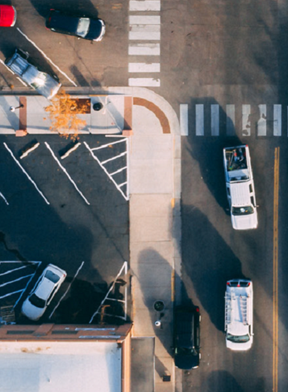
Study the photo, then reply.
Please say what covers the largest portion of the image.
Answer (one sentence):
Most of the picture is covered by paved ground.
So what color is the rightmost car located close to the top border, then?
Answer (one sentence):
The color of the rightmost car located close to the top border is black.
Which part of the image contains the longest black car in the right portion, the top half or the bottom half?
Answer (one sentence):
The bottom half of the photo is where the longest black car in the right portion is.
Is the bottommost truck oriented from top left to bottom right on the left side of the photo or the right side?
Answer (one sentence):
The bottommost truck oriented from top left to bottom right appears in the left half of the scene.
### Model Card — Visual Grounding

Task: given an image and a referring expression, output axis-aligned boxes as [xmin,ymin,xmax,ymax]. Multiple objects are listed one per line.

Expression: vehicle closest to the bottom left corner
[22,263,67,323]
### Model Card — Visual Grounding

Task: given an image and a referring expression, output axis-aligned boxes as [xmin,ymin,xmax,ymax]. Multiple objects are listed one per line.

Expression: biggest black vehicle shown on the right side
[173,304,201,370]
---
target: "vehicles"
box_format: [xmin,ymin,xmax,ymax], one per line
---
[223,278,254,352]
[22,263,67,323]
[222,144,259,231]
[173,304,201,370]
[44,8,105,43]
[1,46,63,101]
[0,2,18,27]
